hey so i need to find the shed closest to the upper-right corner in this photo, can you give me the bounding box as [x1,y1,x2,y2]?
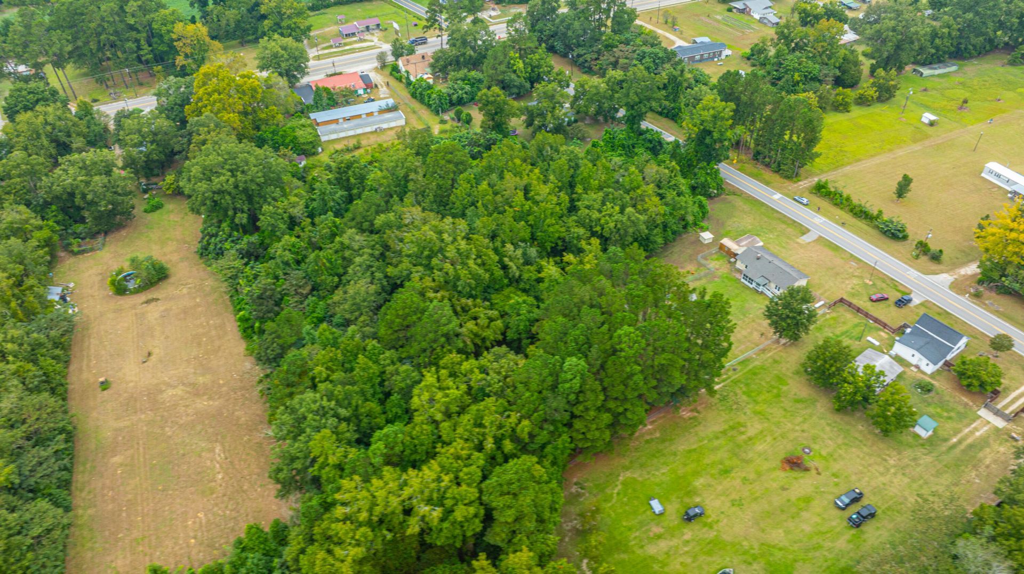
[912,60,960,76]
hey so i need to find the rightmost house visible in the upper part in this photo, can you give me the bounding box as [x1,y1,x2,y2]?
[981,162,1024,196]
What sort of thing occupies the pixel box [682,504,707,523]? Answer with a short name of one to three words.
car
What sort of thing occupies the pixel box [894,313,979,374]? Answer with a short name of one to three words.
house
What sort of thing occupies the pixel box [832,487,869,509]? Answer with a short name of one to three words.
truck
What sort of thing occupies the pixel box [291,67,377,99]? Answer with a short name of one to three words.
building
